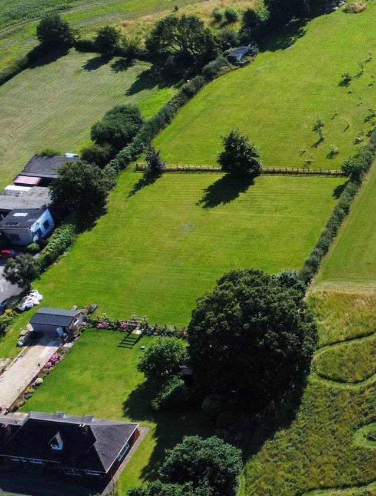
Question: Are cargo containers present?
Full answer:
No, there appears to be no cargo container in this shot.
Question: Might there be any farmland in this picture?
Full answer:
Yes, the picture does contain farmland.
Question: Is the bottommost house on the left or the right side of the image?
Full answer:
It is on the left.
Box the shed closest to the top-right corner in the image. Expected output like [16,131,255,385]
[218,44,255,66]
